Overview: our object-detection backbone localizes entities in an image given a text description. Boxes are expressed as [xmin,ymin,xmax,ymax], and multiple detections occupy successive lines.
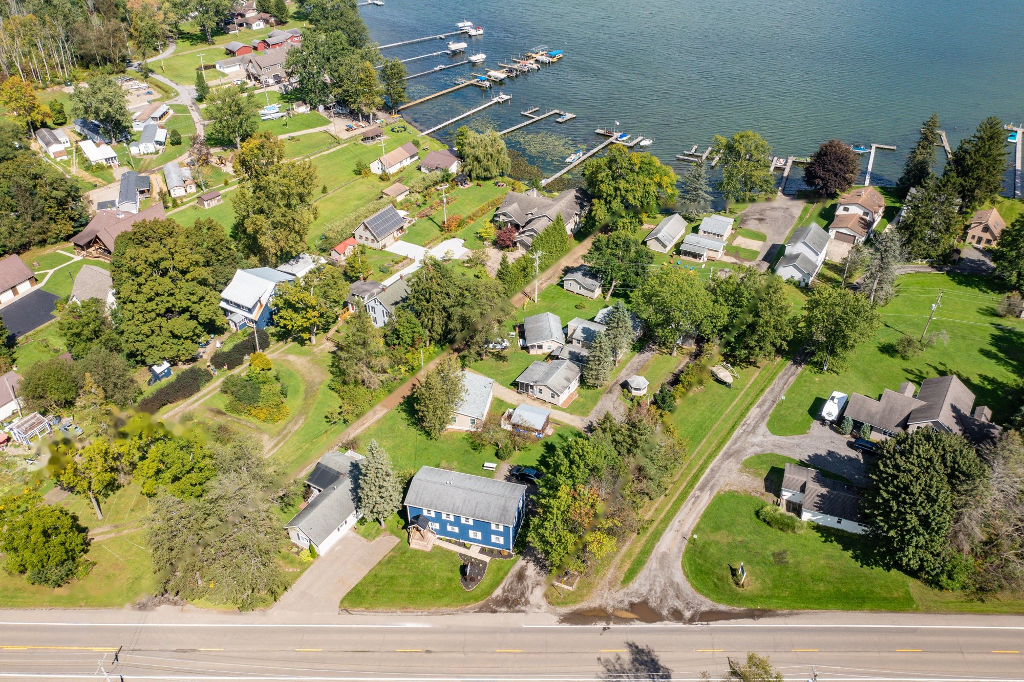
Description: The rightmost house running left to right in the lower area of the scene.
[843,375,1005,456]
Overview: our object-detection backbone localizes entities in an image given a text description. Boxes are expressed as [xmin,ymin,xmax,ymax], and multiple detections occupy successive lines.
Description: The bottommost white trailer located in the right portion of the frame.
[819,387,849,430]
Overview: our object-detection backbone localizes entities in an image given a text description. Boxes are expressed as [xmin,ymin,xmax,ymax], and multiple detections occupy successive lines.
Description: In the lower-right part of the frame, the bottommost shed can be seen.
[780,462,871,536]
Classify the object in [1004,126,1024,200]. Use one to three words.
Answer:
pier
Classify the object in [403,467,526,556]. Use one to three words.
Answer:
house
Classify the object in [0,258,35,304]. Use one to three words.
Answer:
building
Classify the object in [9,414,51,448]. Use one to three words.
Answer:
greenhouse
